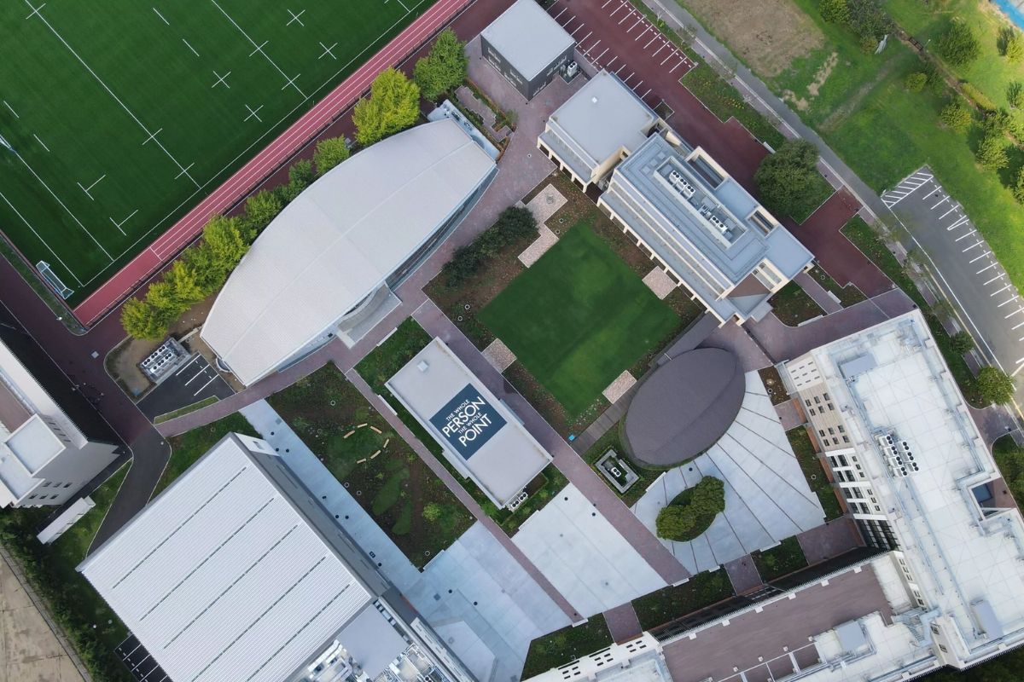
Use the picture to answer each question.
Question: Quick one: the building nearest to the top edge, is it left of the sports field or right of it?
right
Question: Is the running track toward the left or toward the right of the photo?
left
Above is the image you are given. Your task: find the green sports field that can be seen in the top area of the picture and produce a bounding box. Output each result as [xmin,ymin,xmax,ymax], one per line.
[0,0,436,309]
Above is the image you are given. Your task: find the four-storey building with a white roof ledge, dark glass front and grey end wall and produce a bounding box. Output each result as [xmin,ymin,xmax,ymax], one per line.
[0,302,127,505]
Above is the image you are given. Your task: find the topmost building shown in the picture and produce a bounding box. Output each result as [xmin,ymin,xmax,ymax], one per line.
[480,0,576,101]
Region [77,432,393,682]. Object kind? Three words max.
building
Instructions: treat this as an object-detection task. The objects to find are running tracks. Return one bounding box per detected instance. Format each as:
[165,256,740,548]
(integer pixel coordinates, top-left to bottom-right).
[0,0,466,326]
